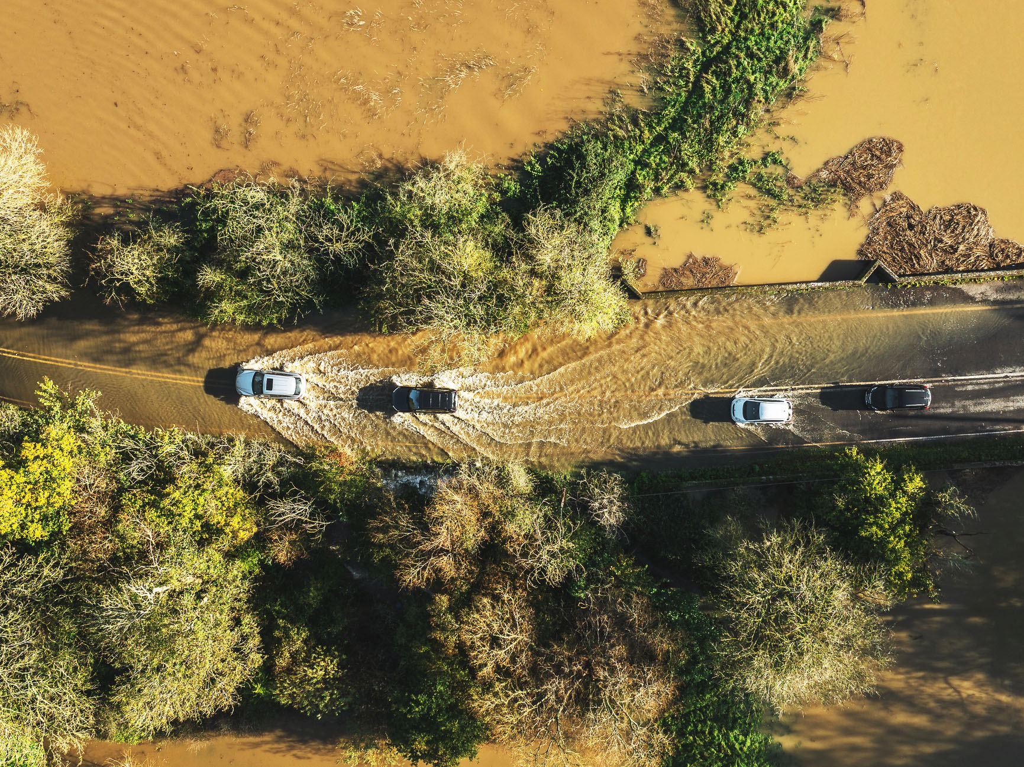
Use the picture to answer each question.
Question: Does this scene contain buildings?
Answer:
No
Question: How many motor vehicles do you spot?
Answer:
4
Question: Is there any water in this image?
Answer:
Yes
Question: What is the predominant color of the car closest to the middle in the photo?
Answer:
black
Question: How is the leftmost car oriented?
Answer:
horizontally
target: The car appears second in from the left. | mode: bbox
[393,383,460,416]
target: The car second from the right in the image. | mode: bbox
[728,393,791,426]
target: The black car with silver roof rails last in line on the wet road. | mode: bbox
[861,381,934,414]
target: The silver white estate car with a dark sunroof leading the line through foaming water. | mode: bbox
[238,367,311,401]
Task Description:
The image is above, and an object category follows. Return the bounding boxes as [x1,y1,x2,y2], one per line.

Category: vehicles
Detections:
[238,367,311,401]
[861,381,934,414]
[393,383,460,416]
[728,393,791,426]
